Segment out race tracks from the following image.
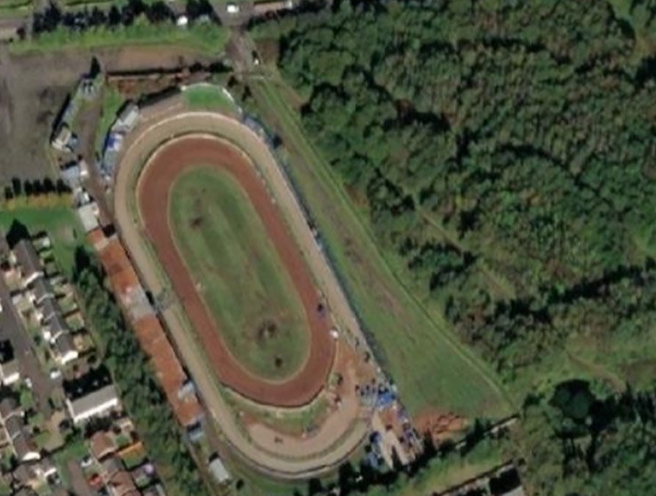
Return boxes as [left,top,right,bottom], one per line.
[114,110,384,474]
